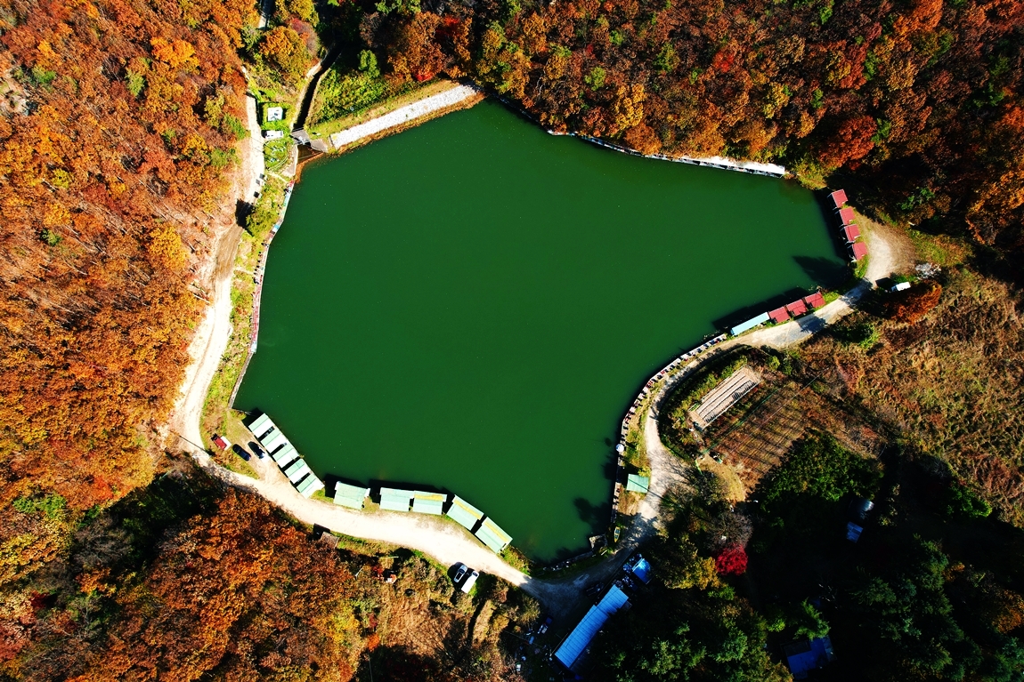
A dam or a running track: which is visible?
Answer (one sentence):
I can see a dam in this picture.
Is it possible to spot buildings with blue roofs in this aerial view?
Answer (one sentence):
Yes, I can see a building with a blue roof in this picture.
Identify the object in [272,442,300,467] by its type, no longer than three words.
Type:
shed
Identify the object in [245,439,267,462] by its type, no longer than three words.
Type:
car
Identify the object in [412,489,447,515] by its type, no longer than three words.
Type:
shed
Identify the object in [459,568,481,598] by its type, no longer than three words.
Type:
vehicle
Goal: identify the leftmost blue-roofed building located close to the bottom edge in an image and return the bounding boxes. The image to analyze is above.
[554,582,628,666]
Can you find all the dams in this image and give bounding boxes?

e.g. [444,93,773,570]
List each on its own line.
[329,85,476,148]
